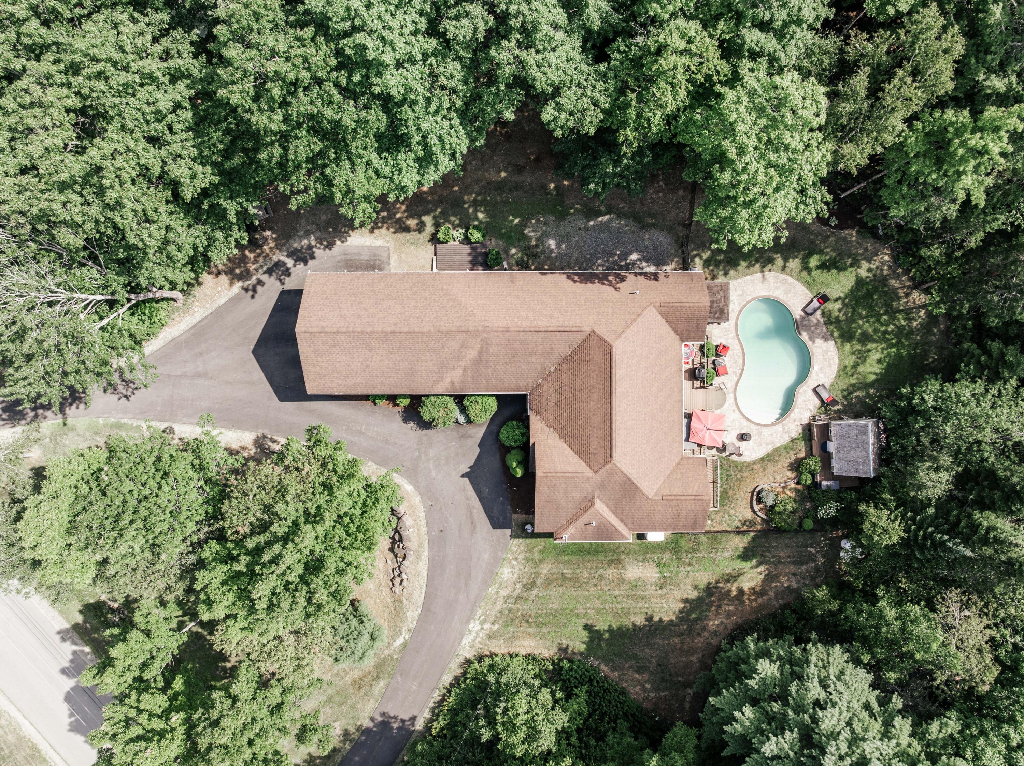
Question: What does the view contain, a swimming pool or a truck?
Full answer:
Visible in the photo is a swimming pool.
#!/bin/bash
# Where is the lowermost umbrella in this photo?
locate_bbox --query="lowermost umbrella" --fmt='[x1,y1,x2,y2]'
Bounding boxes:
[689,409,729,447]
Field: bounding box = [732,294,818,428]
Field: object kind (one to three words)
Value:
swimming pool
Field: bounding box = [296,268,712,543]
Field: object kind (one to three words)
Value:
house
